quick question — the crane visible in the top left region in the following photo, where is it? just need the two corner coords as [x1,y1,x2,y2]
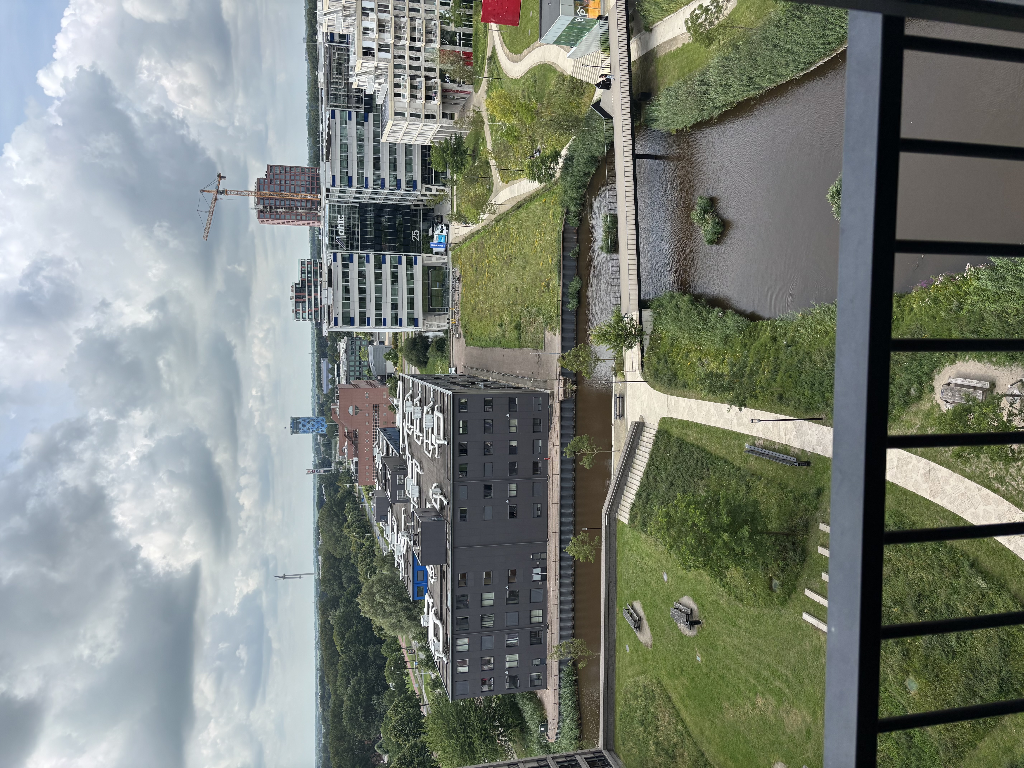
[198,173,321,241]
